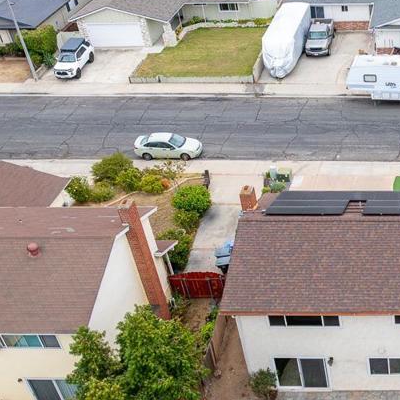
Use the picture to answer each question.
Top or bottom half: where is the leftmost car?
top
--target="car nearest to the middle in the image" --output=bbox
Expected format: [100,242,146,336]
[128,130,202,158]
